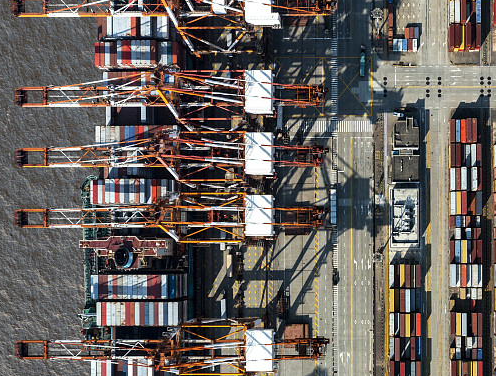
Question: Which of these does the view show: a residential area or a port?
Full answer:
This looks like a port.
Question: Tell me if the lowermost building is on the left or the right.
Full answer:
You can find the lowermost building on the right side of the picture.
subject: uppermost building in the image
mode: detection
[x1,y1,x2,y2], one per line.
[393,115,419,151]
